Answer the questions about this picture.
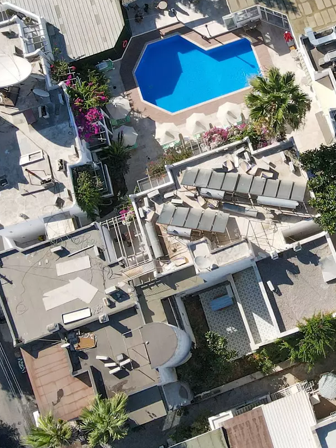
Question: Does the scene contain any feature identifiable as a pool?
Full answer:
Yes, you can see a pool in this photo.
